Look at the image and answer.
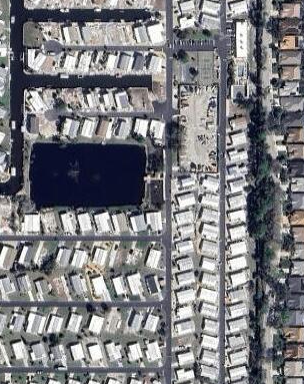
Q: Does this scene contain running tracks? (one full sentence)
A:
No, the photo shows no running track.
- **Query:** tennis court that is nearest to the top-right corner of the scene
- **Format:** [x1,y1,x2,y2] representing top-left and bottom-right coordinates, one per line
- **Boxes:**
[197,51,214,83]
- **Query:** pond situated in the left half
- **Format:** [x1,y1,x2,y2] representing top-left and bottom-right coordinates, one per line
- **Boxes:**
[29,143,147,206]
